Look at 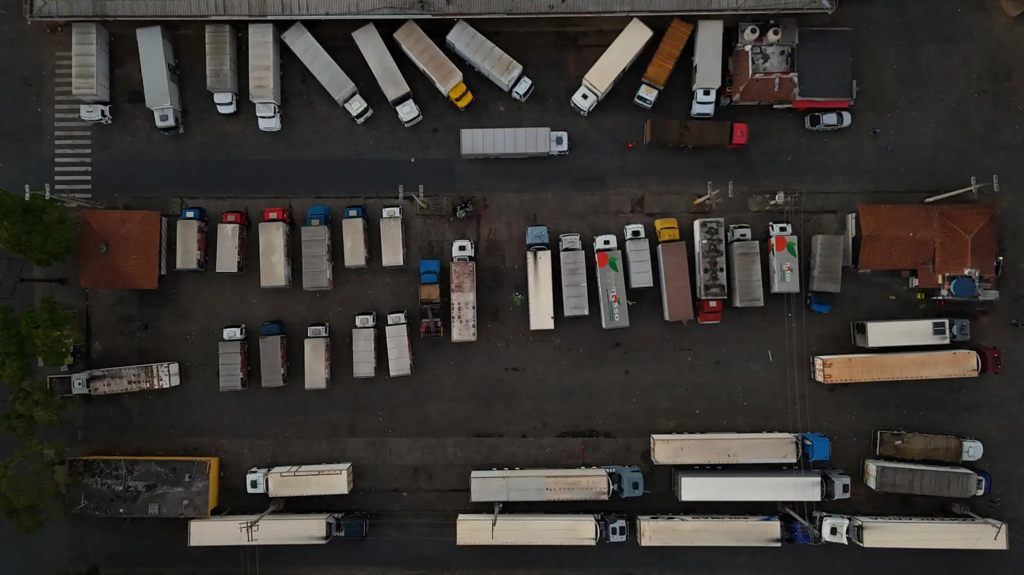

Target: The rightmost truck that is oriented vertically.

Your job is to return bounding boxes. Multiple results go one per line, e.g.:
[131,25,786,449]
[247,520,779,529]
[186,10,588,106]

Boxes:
[804,235,841,314]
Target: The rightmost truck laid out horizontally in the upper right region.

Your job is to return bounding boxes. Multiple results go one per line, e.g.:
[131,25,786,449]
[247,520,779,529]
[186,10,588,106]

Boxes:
[803,109,851,132]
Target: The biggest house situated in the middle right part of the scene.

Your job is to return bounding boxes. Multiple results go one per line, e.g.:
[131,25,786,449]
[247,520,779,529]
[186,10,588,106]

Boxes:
[850,205,997,287]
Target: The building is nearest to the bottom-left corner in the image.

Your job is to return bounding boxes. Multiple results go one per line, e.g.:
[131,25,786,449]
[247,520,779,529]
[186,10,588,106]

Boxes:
[64,454,220,518]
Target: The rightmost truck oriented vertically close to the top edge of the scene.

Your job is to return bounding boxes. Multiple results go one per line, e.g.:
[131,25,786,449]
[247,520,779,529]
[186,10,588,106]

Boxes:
[689,20,723,121]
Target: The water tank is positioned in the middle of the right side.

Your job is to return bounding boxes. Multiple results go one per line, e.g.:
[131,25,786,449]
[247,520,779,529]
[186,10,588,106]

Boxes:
[935,276,974,299]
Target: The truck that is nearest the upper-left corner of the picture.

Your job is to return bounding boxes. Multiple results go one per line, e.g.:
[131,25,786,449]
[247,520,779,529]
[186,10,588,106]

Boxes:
[72,22,114,127]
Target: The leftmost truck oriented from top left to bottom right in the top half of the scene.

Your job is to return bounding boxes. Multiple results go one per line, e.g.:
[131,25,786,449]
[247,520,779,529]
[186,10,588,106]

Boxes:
[282,21,375,125]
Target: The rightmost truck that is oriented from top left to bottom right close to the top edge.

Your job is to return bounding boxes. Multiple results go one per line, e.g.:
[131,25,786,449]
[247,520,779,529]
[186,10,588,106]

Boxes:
[447,20,535,103]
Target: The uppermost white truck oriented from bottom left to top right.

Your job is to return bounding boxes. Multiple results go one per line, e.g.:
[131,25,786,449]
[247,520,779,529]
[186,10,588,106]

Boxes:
[567,20,653,120]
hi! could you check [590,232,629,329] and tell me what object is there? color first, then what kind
gray truck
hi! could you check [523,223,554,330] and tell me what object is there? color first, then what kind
white truck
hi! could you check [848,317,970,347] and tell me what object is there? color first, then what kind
white truck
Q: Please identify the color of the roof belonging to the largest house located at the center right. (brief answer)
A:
red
